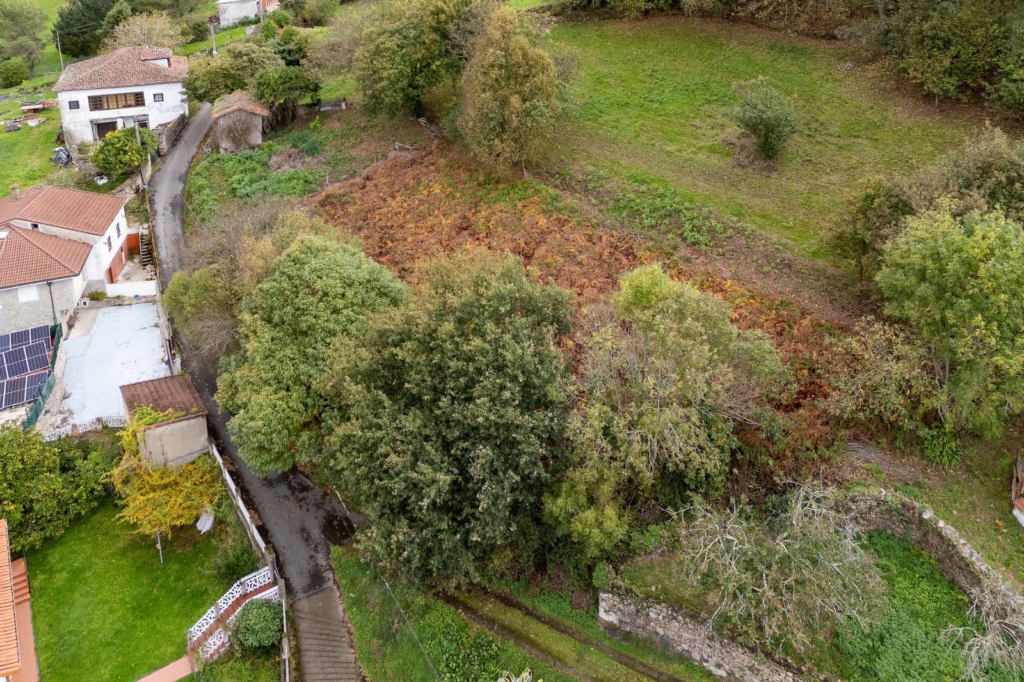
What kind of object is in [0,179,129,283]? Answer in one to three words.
house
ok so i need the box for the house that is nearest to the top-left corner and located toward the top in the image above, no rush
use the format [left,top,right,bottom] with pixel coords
[51,42,192,152]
